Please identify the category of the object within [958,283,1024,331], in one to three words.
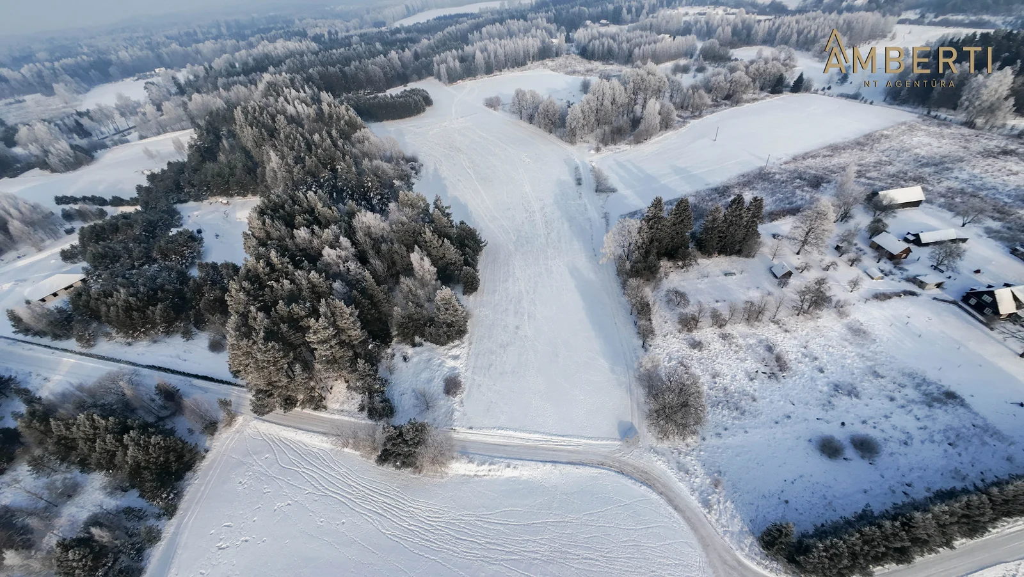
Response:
house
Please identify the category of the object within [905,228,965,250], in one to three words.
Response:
shed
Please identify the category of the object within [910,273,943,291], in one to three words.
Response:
shed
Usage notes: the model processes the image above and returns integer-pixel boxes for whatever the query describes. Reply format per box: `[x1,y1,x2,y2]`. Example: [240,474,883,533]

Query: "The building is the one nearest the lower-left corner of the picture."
[26,272,90,308]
